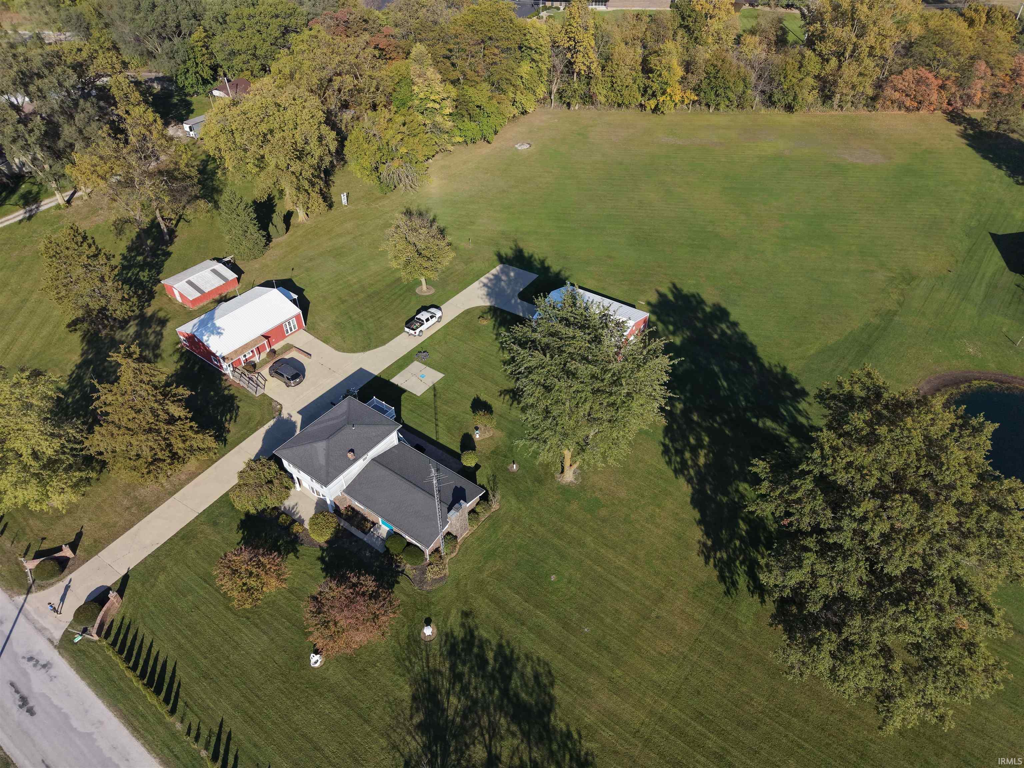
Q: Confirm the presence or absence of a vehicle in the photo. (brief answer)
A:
Yes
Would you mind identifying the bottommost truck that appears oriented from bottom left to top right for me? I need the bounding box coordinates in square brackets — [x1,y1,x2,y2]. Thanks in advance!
[404,308,445,338]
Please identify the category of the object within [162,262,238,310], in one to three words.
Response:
shed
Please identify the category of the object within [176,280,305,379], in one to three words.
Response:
building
